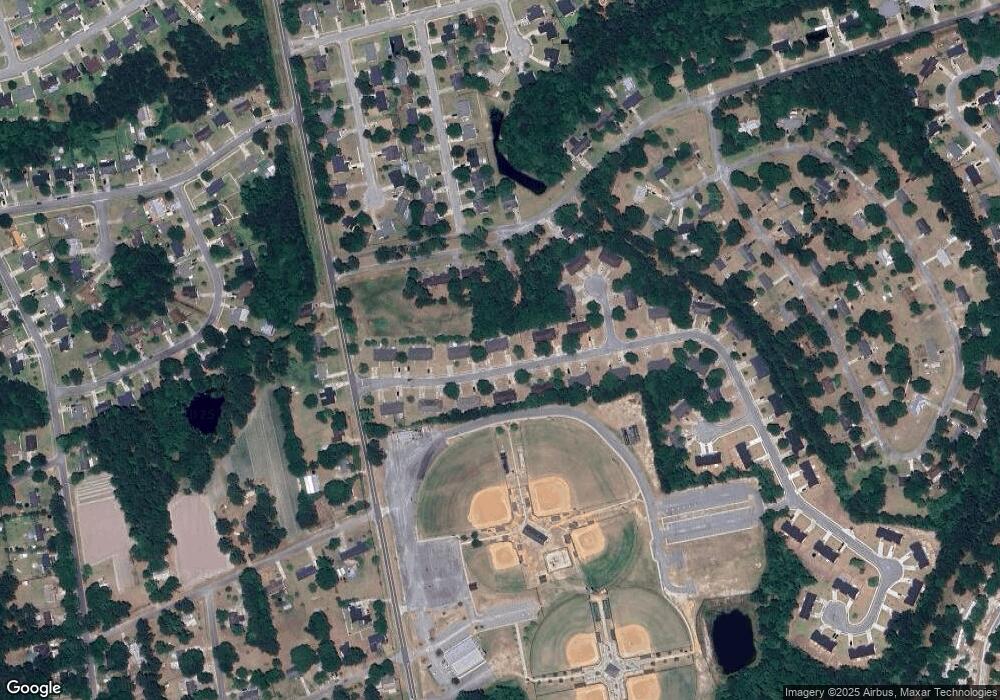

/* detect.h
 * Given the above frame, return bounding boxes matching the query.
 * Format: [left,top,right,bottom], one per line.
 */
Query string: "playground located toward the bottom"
[545,549,572,572]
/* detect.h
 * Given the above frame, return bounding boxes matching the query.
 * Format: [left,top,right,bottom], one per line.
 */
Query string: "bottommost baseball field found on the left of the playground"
[463,538,524,594]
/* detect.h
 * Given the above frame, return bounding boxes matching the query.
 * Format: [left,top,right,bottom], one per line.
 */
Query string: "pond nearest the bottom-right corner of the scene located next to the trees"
[712,608,755,674]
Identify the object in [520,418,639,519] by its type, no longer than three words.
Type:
baseball field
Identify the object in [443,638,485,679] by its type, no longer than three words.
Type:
building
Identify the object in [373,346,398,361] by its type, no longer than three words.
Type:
house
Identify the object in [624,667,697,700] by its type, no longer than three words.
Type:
baseball field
